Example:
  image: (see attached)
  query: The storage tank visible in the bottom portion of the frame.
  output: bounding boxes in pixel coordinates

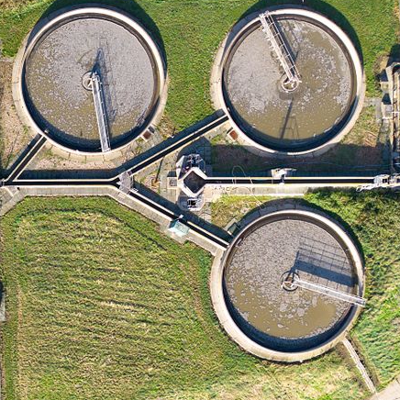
[210,208,366,363]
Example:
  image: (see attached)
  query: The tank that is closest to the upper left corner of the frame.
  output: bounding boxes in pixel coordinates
[13,8,167,162]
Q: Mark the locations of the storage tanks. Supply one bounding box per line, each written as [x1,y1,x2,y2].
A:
[13,8,167,162]
[210,10,366,165]
[210,208,366,363]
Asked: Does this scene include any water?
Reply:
Yes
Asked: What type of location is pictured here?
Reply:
industrial area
